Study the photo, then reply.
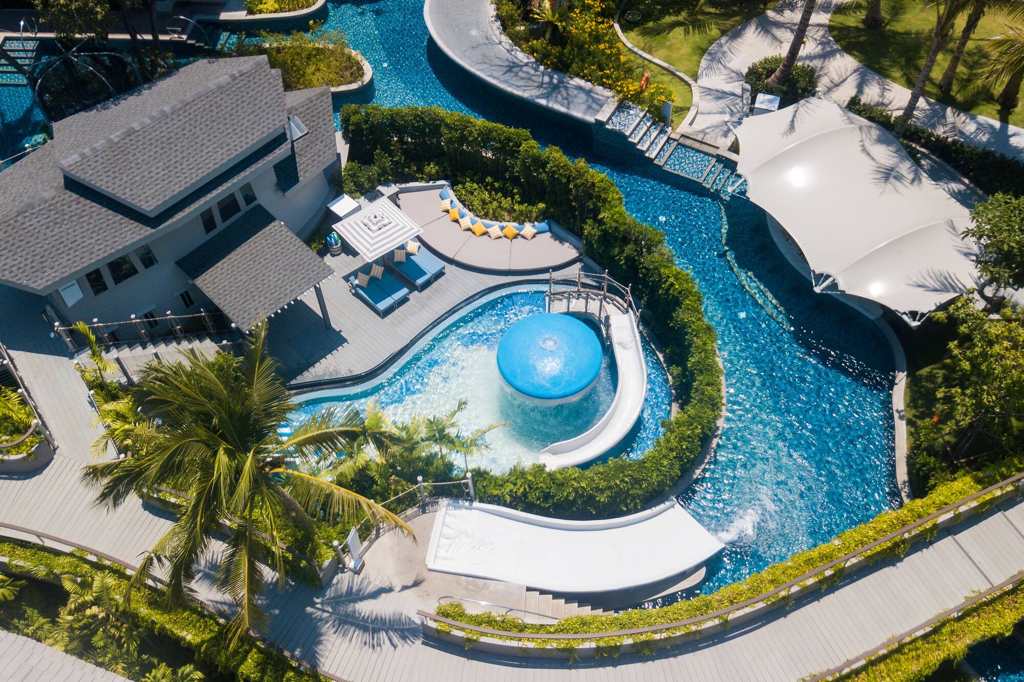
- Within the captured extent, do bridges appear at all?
Yes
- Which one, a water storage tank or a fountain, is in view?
fountain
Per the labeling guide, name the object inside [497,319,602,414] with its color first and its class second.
blue fountain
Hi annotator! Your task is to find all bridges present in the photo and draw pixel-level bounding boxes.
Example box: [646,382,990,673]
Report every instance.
[548,288,631,361]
